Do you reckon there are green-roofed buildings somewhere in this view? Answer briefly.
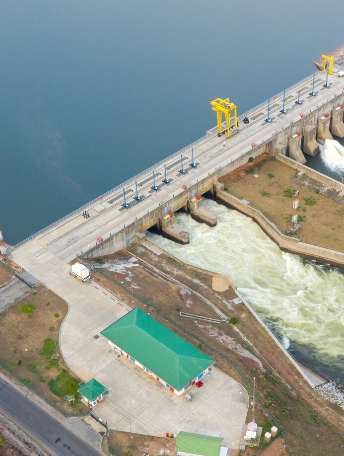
Yes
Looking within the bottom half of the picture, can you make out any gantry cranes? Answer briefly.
No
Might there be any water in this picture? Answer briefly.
Yes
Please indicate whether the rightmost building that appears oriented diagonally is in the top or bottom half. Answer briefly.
bottom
